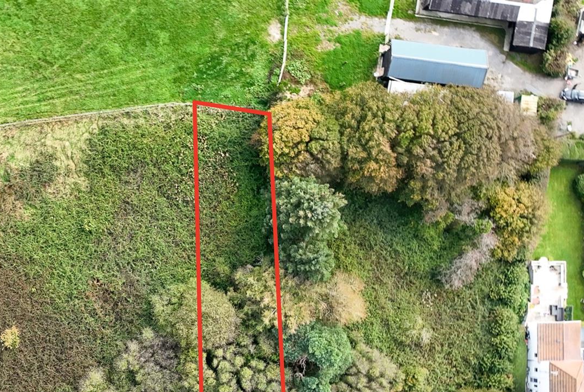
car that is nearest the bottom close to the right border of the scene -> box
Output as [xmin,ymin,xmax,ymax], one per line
[564,87,584,103]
